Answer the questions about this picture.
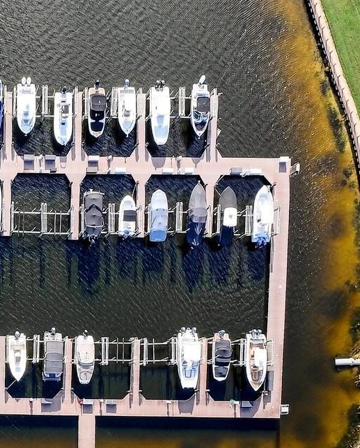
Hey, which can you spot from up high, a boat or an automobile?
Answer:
boat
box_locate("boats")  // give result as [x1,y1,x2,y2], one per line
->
[212,326,233,380]
[218,185,237,246]
[186,181,206,249]
[251,183,273,251]
[150,80,170,145]
[9,329,26,383]
[119,195,136,243]
[246,327,266,392]
[53,85,73,145]
[88,81,107,137]
[117,81,135,138]
[82,191,103,246]
[42,326,64,380]
[148,189,167,243]
[177,328,200,388]
[75,329,95,384]
[190,77,211,140]
[17,76,36,135]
